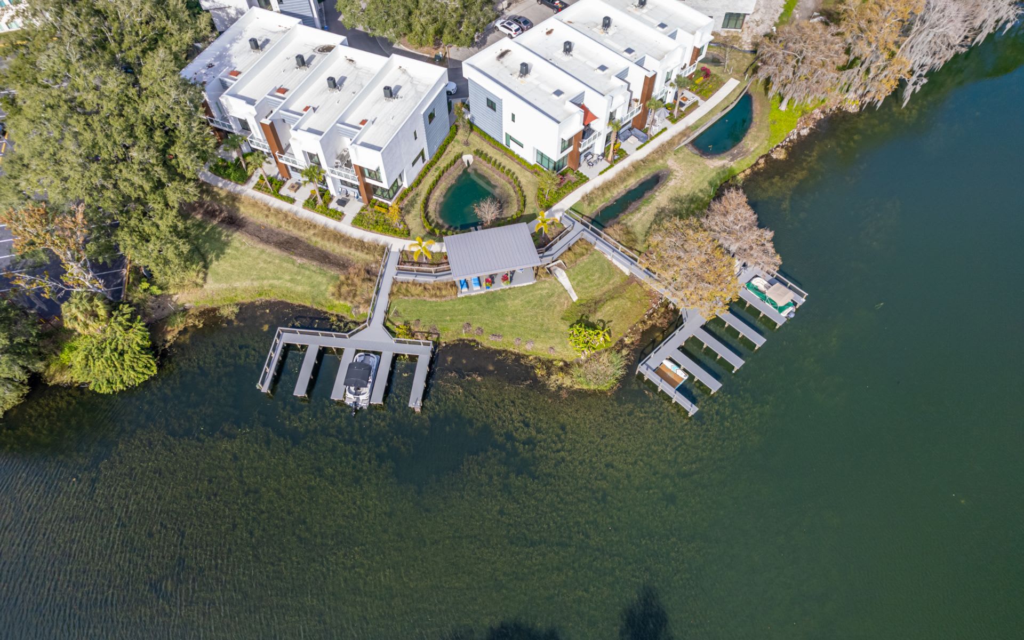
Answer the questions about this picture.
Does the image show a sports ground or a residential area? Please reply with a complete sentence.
The picture captures a residential area.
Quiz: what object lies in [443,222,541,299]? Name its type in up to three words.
building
